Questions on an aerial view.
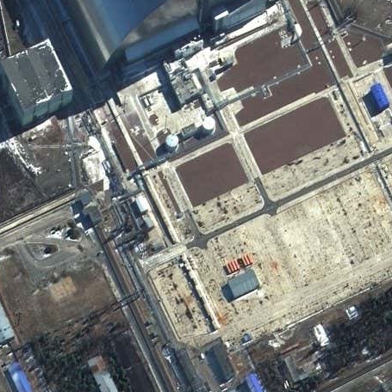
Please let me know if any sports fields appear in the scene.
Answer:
No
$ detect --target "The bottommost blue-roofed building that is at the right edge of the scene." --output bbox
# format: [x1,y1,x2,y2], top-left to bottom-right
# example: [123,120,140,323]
[370,84,389,115]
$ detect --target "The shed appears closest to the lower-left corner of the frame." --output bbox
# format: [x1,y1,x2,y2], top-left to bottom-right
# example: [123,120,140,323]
[8,363,32,392]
